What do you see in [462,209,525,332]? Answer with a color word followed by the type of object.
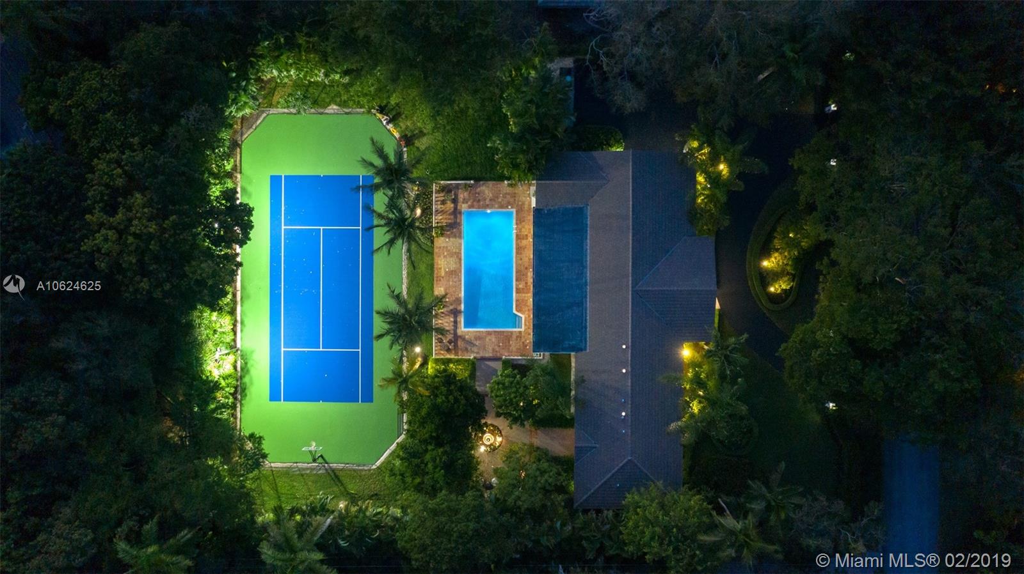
blue swimming pool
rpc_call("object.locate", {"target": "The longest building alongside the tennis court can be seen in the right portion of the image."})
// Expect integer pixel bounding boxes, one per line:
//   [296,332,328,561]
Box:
[535,149,719,510]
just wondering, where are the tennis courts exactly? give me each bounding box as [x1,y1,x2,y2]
[235,108,408,471]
